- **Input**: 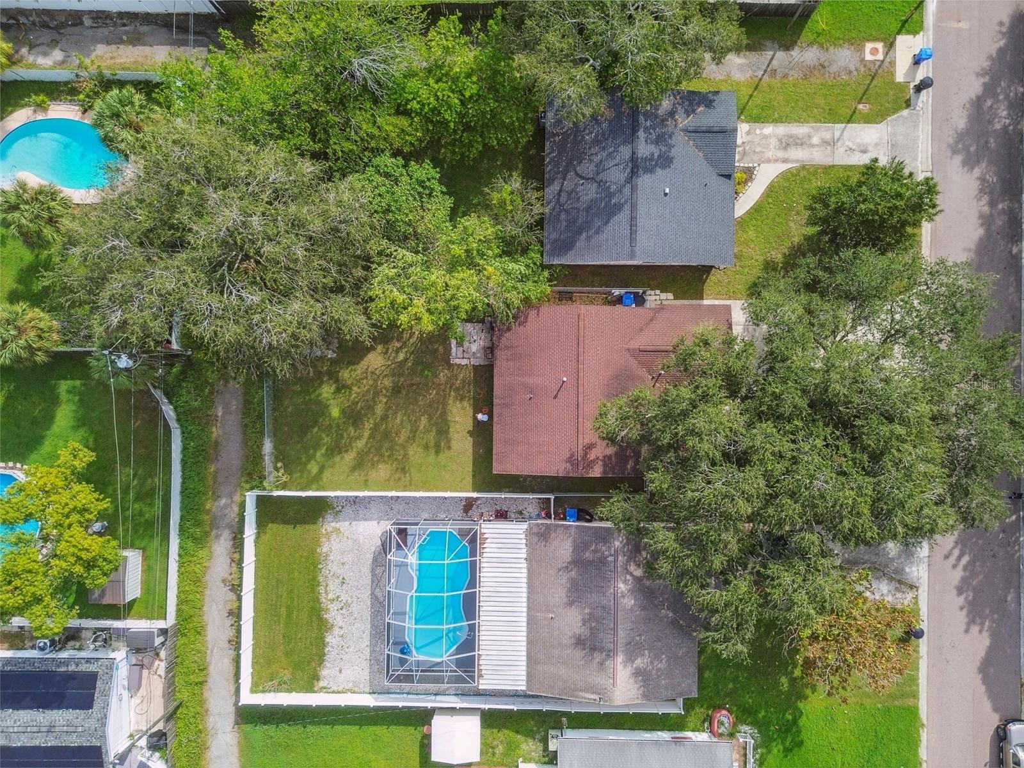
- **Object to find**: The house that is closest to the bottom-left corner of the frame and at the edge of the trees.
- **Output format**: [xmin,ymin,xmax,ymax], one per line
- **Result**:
[0,649,129,768]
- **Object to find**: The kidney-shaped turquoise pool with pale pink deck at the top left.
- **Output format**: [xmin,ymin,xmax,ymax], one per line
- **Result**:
[0,104,137,204]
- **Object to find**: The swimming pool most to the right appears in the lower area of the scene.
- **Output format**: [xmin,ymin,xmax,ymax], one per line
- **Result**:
[395,526,481,667]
